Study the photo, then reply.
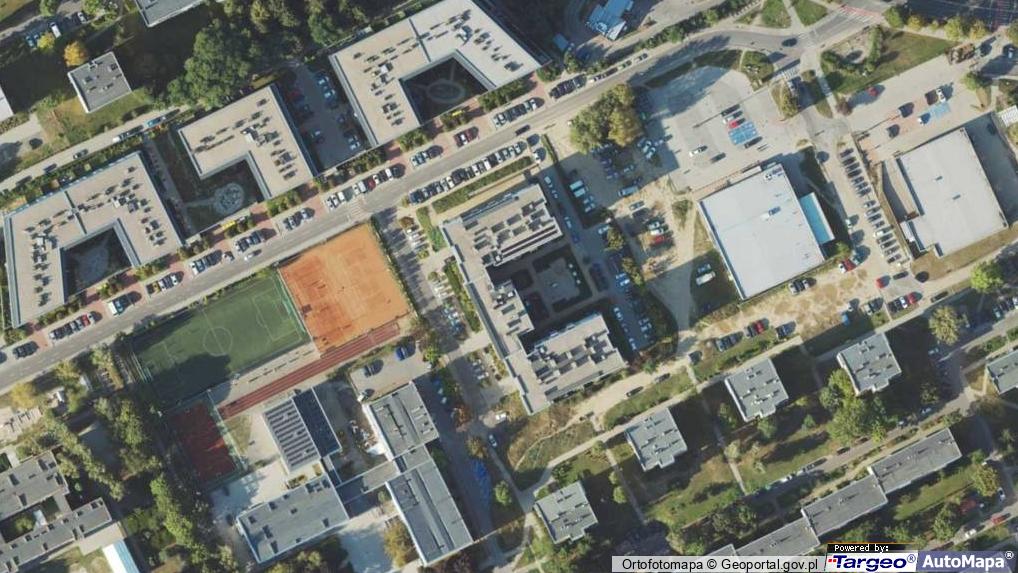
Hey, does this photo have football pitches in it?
Yes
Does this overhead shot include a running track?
Yes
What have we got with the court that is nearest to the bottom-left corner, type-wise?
basketball court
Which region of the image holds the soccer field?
left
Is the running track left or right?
left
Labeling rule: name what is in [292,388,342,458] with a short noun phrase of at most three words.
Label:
building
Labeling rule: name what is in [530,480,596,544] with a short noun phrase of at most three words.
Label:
building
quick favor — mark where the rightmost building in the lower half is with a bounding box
[981,346,1018,407]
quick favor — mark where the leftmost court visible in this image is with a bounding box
[160,391,250,494]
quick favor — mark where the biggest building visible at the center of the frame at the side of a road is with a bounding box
[435,183,629,415]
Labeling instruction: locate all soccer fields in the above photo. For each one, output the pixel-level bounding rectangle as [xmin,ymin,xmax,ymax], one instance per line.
[132,270,312,409]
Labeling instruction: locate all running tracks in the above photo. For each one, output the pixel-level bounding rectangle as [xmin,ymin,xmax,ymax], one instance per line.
[219,317,413,419]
